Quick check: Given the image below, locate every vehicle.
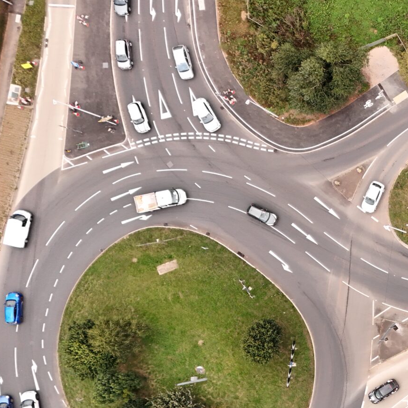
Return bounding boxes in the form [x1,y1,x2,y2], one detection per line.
[0,208,32,250]
[192,95,222,135]
[5,292,26,325]
[129,186,189,213]
[361,180,386,215]
[367,375,402,406]
[19,389,41,408]
[127,100,153,135]
[0,395,15,408]
[115,39,135,71]
[172,45,196,82]
[245,201,281,229]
